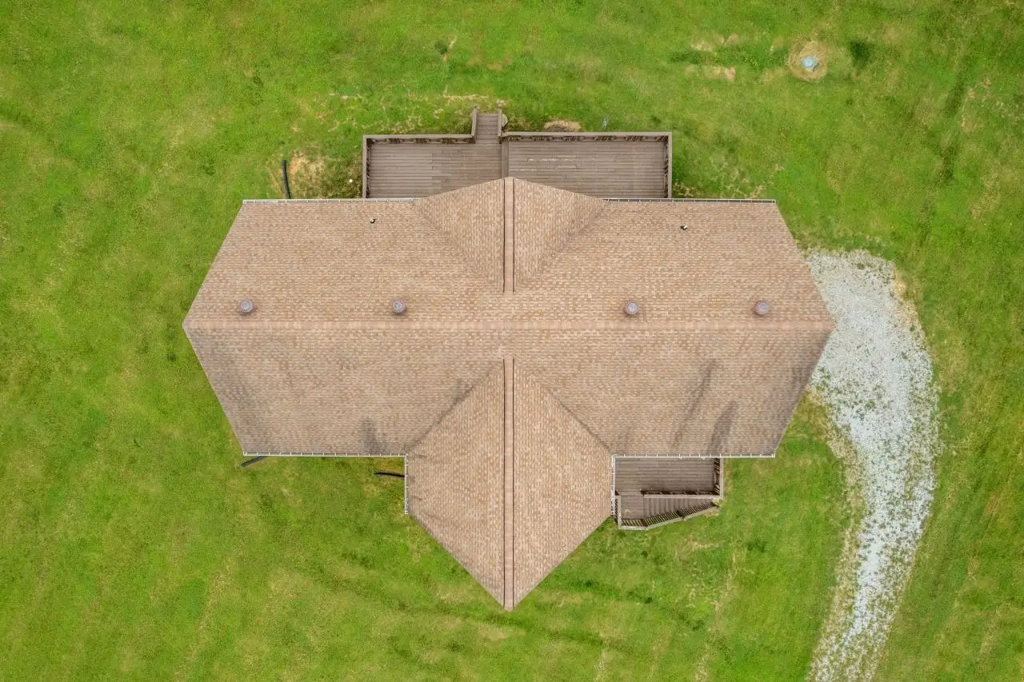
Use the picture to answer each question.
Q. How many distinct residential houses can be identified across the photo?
1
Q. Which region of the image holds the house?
center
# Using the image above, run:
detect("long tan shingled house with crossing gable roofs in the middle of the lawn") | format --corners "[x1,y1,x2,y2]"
[182,176,835,612]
